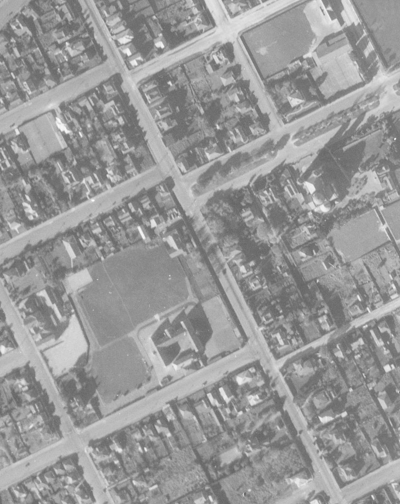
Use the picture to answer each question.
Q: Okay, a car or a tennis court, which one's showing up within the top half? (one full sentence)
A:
The feature located within the top half is a tennis court.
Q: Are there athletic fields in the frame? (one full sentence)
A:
Yes, the picture does show an athletic field.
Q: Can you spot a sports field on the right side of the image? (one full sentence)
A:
Yes, you'll find a sports field on the right side of the image.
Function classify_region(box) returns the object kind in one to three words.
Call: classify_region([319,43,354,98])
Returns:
tennis court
